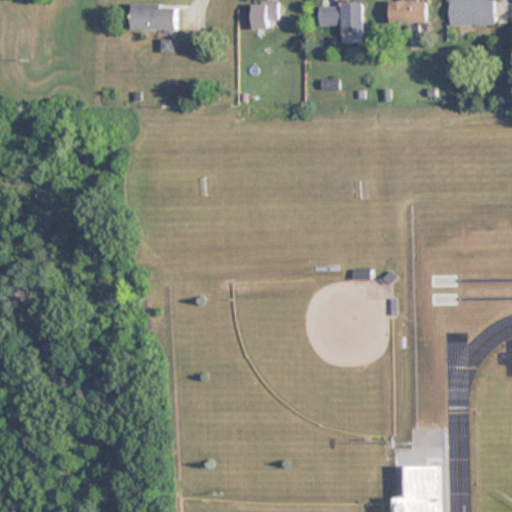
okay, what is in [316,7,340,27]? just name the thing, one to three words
building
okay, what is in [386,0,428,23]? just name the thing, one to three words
house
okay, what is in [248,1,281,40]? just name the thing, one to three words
house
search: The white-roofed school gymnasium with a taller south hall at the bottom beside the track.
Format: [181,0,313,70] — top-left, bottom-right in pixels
[391,465,442,512]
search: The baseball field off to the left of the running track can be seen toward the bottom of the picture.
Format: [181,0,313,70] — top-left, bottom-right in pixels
[233,281,393,438]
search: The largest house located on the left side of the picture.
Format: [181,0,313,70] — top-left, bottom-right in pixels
[128,3,180,31]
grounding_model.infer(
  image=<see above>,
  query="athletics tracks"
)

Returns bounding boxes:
[446,314,512,512]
